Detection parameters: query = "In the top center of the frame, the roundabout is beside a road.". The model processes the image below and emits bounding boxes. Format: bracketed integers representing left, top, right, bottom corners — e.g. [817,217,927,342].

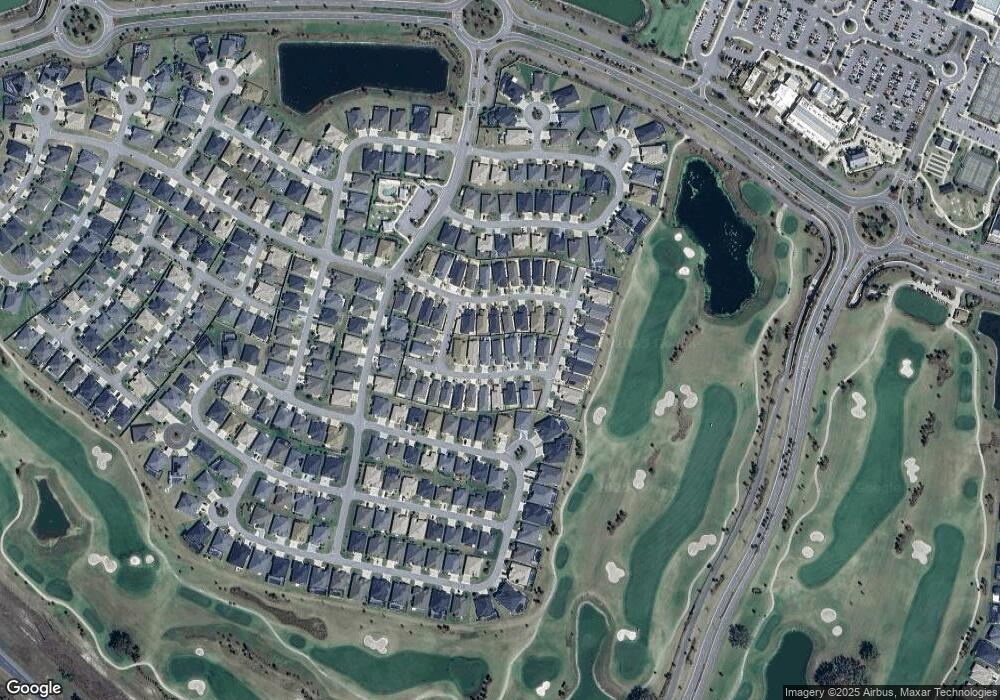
[453,0,513,49]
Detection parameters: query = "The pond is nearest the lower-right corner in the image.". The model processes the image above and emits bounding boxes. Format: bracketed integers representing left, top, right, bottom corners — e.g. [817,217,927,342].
[762,630,812,700]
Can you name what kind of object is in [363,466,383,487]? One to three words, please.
house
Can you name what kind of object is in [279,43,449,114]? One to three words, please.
pond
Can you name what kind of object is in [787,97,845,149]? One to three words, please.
building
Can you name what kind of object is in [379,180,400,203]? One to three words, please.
swimming pool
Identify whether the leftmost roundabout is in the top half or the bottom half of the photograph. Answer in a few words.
top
